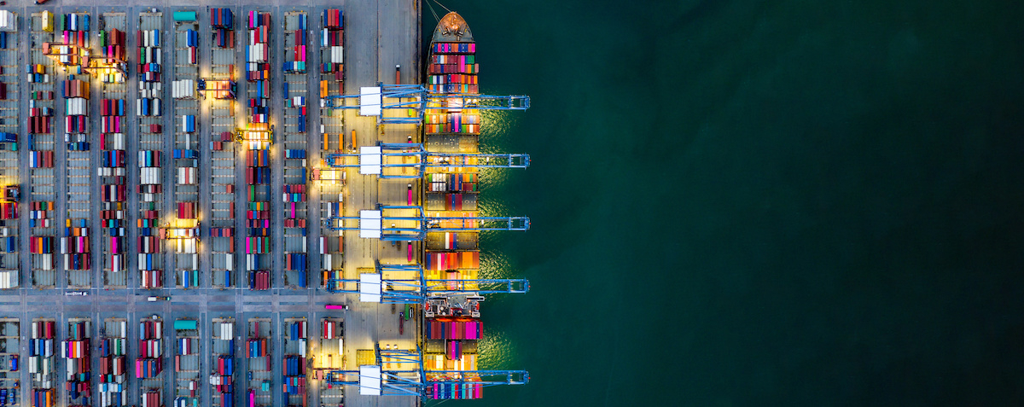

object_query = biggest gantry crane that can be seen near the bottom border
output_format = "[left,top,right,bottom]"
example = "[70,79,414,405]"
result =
[325,339,530,397]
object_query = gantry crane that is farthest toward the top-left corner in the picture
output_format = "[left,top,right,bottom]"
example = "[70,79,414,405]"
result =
[42,41,92,62]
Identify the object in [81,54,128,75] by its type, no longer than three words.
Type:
container crane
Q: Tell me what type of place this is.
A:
port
